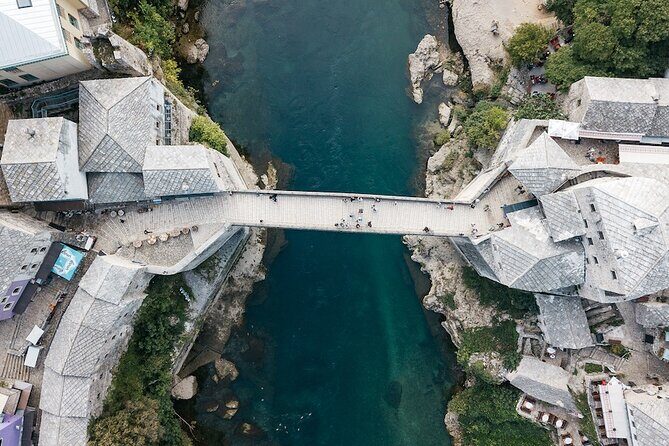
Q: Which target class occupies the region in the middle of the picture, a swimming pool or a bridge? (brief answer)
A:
bridge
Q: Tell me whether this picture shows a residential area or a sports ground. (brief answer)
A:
residential area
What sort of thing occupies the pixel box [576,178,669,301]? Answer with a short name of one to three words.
house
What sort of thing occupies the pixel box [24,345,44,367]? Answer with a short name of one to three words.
umbrella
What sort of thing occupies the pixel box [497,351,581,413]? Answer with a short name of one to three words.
house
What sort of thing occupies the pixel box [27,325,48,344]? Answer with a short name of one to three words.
umbrella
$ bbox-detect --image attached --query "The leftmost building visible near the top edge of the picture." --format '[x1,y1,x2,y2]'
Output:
[0,0,89,87]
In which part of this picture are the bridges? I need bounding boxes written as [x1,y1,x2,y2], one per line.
[223,189,472,240]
